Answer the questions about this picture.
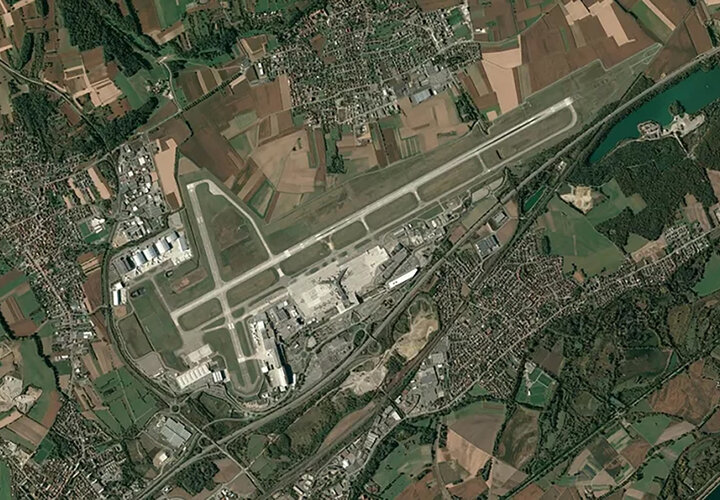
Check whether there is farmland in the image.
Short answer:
Yes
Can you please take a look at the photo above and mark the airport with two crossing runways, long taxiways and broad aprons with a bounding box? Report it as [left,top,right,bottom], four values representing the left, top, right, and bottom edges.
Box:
[111,44,662,404]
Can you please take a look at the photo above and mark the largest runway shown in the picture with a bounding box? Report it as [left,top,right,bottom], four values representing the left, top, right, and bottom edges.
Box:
[174,96,576,320]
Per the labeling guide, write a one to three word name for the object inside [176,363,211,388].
hangar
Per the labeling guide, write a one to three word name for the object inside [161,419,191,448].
building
